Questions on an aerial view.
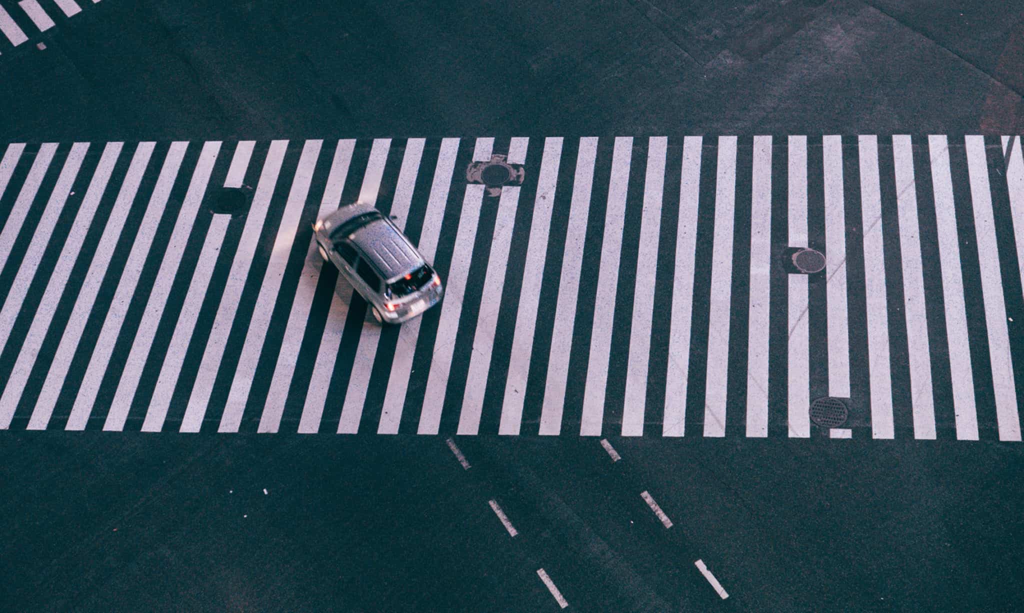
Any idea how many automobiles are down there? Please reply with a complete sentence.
The count comes to 1 automobile.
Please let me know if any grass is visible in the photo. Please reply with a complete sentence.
No, no grass is visible.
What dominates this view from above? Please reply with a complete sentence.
The largest share of the image is taken up by paved ground.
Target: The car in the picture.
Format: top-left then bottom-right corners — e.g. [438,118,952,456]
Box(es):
[313,201,443,325]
